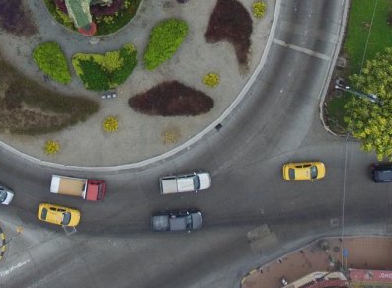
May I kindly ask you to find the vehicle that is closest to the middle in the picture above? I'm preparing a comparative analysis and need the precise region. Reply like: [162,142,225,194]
[158,170,212,194]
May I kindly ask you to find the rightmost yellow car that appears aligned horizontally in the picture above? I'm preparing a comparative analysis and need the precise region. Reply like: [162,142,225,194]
[281,160,327,182]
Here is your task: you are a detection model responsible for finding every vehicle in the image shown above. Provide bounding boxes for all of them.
[36,200,83,232]
[281,160,327,182]
[49,173,108,202]
[158,170,212,194]
[0,184,20,208]
[370,162,392,182]
[151,209,204,232]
